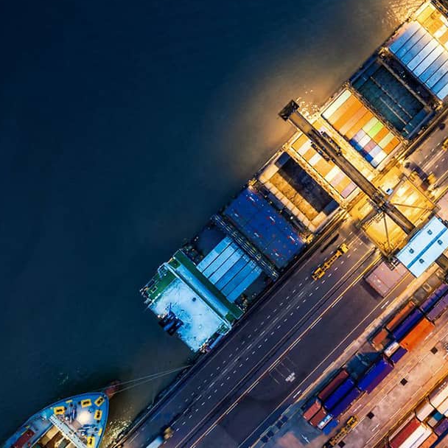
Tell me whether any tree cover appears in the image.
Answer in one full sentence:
No, the picture contains no tree cover.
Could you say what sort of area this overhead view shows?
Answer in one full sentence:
What you see here is a port.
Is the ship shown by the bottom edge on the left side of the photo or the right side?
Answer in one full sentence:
The ship shown by the bottom edge appears in the left half of the scene.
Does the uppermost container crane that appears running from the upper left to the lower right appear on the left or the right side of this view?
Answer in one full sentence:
You can find the uppermost container crane that appears running from the upper left to the lower right on the right side of the picture.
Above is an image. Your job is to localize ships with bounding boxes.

[142,0,448,352]
[4,372,129,448]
